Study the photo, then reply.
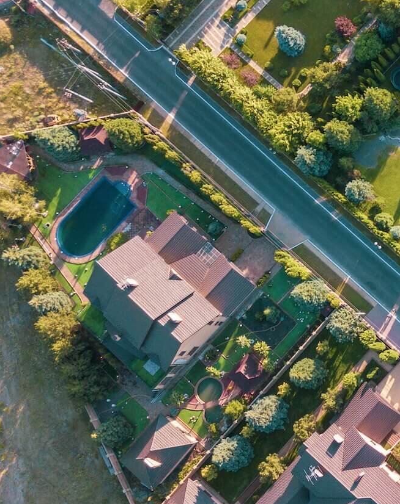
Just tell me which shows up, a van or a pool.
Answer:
pool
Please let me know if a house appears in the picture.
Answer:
Yes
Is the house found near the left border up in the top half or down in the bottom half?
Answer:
top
